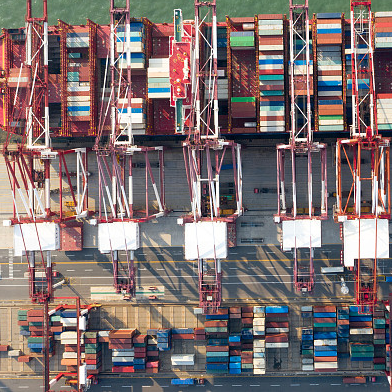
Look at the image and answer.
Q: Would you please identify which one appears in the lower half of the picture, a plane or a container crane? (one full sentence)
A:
The feature located in the lower half of the picture is a container crane.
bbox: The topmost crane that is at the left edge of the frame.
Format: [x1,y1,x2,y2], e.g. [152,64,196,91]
[0,0,109,308]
